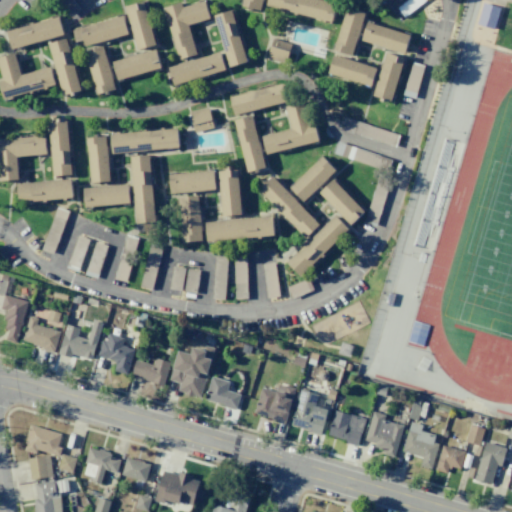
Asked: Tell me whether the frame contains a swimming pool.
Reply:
Yes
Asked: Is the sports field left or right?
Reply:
right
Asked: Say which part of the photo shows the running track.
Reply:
right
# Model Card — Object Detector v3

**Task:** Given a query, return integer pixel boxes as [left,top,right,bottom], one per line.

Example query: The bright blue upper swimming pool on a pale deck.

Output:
[285,24,330,58]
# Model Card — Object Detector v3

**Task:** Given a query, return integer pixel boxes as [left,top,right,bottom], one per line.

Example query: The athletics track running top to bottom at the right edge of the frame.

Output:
[410,51,512,405]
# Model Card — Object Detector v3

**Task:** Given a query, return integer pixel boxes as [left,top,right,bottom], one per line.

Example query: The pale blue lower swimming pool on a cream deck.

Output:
[198,128,234,154]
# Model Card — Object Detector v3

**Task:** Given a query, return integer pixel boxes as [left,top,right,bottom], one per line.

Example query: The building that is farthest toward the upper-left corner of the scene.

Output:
[6,16,63,50]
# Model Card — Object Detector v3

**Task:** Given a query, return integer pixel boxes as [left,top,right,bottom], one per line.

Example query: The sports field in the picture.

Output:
[442,90,512,384]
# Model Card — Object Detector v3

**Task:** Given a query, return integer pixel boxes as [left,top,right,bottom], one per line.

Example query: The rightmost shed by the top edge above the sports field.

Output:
[480,2,502,28]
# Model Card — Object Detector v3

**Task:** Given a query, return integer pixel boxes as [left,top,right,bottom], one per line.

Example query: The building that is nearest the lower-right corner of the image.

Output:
[476,444,508,485]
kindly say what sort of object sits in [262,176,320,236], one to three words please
building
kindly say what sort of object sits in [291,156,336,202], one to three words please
building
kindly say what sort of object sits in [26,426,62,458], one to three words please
house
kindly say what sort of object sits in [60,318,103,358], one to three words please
house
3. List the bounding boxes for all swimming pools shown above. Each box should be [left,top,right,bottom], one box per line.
[198,128,234,154]
[285,24,330,58]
